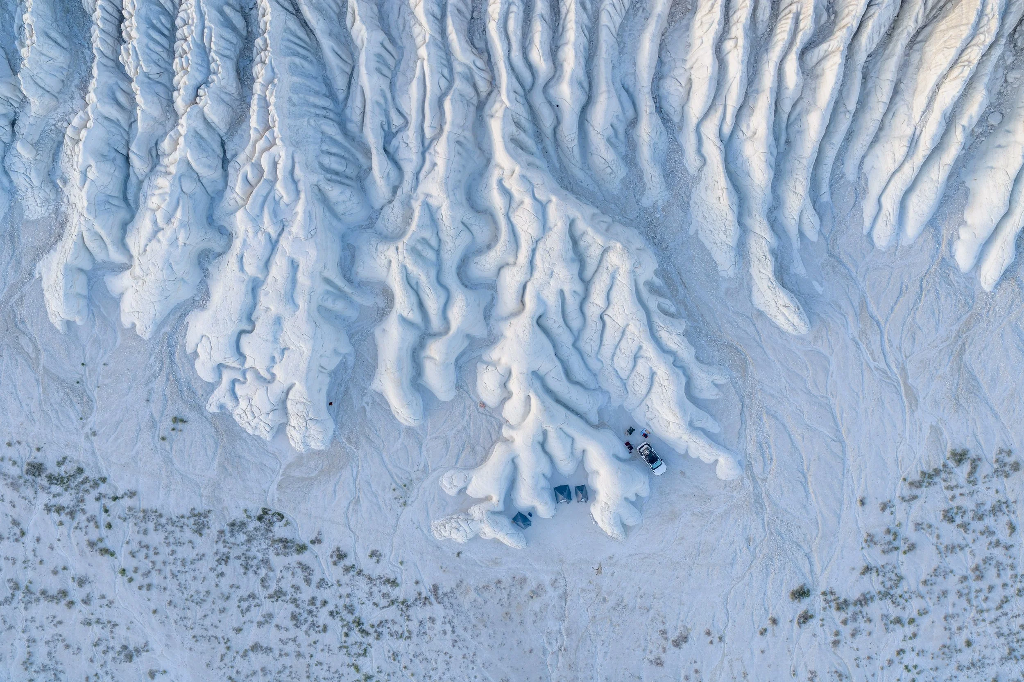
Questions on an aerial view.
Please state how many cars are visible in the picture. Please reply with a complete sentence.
The picture shows just 1 car.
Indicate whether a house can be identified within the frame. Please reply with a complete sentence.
No, the scene contains no house.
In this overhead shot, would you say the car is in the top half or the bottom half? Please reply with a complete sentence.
The car sits in the bottom half of the picture.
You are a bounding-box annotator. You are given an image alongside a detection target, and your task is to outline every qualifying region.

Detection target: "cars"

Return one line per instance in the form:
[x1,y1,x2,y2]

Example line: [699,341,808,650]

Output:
[637,442,667,477]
